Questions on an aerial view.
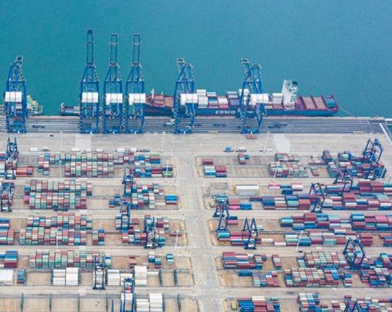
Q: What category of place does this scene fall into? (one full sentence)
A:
What you see here is a port.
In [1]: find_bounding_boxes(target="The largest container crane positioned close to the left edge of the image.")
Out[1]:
[5,58,28,133]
